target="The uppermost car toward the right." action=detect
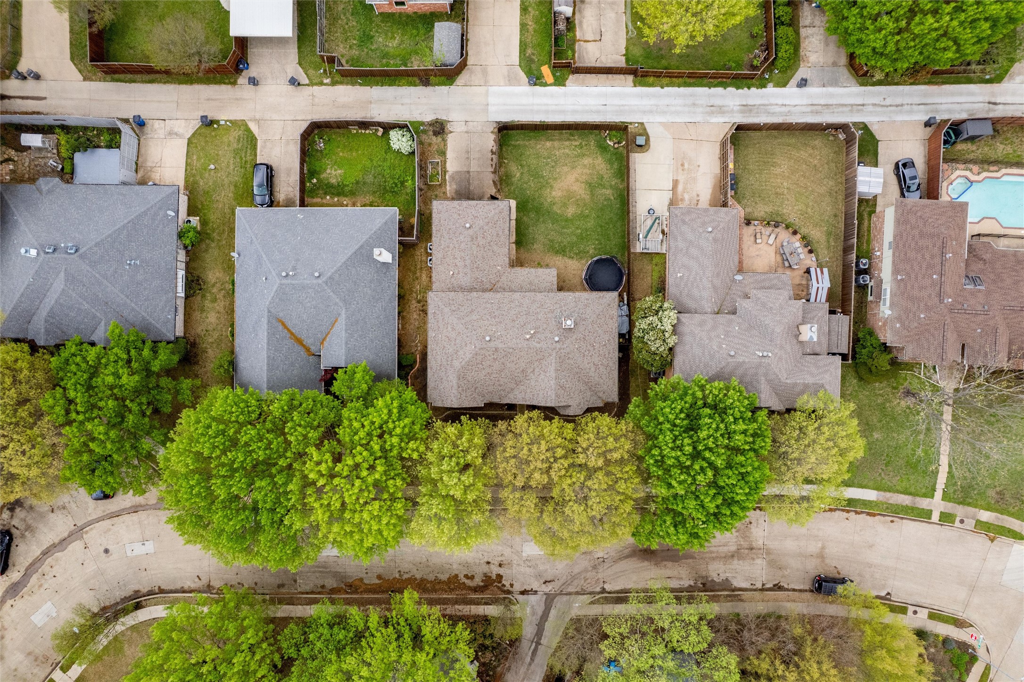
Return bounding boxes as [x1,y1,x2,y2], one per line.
[894,156,923,199]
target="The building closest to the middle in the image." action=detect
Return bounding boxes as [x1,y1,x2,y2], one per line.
[427,200,619,414]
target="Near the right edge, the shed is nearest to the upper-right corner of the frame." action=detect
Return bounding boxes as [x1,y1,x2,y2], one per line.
[955,119,993,141]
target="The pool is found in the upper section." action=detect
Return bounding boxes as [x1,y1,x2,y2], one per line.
[946,173,1024,230]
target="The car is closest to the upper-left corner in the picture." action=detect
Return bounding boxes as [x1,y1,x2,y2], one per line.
[251,162,276,208]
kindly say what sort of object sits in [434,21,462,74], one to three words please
shed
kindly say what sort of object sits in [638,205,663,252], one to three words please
trailer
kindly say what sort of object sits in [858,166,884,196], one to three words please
shed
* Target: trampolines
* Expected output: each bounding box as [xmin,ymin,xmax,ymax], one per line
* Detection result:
[583,252,625,291]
